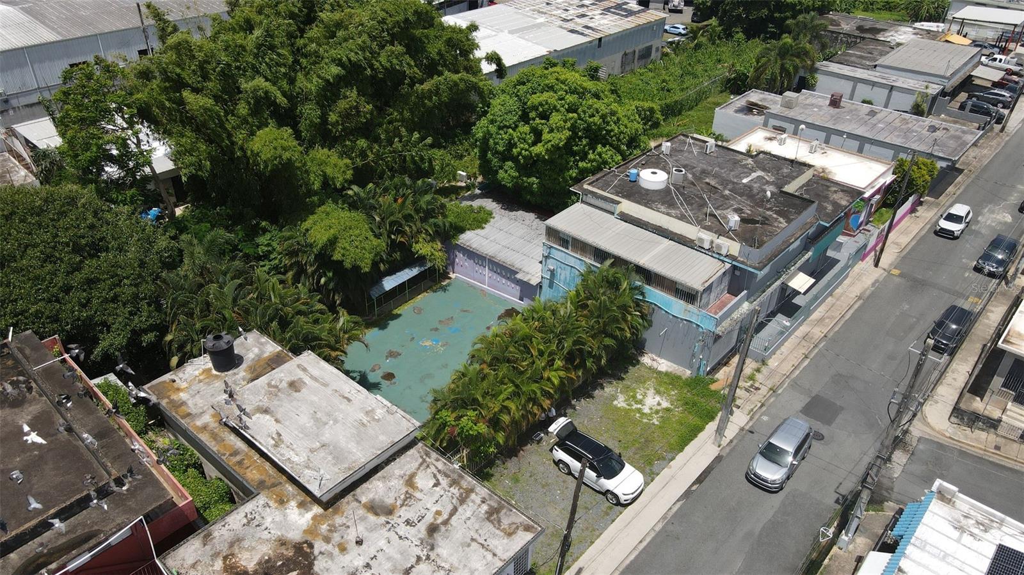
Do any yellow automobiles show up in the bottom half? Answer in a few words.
No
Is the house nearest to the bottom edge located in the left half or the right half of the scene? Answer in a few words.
right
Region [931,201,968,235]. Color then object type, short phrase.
white car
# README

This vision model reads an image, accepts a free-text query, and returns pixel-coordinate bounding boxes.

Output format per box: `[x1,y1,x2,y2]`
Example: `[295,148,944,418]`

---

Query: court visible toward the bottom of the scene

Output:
[304,270,614,430]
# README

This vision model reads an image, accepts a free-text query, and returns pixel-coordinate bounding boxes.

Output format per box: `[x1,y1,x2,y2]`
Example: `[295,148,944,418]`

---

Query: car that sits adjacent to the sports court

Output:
[543,408,649,505]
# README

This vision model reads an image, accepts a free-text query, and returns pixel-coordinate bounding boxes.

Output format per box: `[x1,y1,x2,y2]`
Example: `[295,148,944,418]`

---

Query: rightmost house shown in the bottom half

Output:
[957,285,1024,447]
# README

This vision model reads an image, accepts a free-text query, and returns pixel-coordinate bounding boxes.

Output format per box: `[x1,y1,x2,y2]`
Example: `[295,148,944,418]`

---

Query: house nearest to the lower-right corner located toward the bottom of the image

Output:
[832,475,1024,575]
